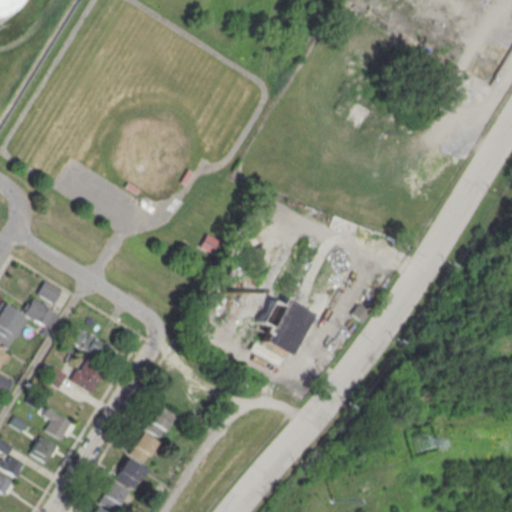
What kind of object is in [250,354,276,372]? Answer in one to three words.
vehicle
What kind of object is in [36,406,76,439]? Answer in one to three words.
house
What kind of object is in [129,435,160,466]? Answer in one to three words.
house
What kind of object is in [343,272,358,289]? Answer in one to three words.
work vehicle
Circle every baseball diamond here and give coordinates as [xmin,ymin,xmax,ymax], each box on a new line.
[8,0,262,201]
